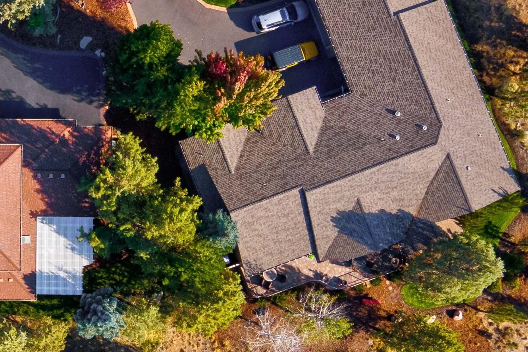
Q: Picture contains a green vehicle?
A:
No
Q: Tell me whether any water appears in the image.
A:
No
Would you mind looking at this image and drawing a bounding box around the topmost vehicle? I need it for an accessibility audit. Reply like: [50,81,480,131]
[247,1,307,35]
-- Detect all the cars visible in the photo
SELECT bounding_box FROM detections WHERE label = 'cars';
[265,41,317,73]
[247,1,307,35]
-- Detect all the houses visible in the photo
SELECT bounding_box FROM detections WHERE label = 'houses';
[178,0,521,279]
[0,118,114,301]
